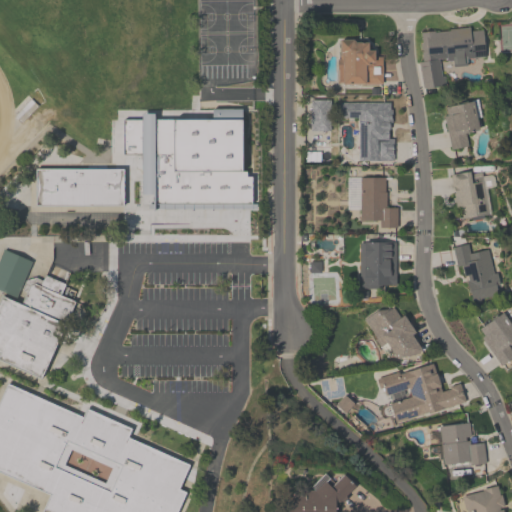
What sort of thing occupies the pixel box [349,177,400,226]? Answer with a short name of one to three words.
house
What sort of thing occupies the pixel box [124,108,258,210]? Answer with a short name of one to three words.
building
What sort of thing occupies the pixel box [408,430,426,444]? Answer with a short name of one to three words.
swimming pool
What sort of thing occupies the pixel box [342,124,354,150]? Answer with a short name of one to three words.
swimming pool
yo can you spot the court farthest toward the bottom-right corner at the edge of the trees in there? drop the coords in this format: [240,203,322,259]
[320,376,347,402]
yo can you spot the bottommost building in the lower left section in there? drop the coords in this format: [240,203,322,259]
[0,383,192,512]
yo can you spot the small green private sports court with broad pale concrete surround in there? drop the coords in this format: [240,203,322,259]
[310,272,341,309]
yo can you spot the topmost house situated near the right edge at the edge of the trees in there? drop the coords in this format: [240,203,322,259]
[422,26,486,88]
